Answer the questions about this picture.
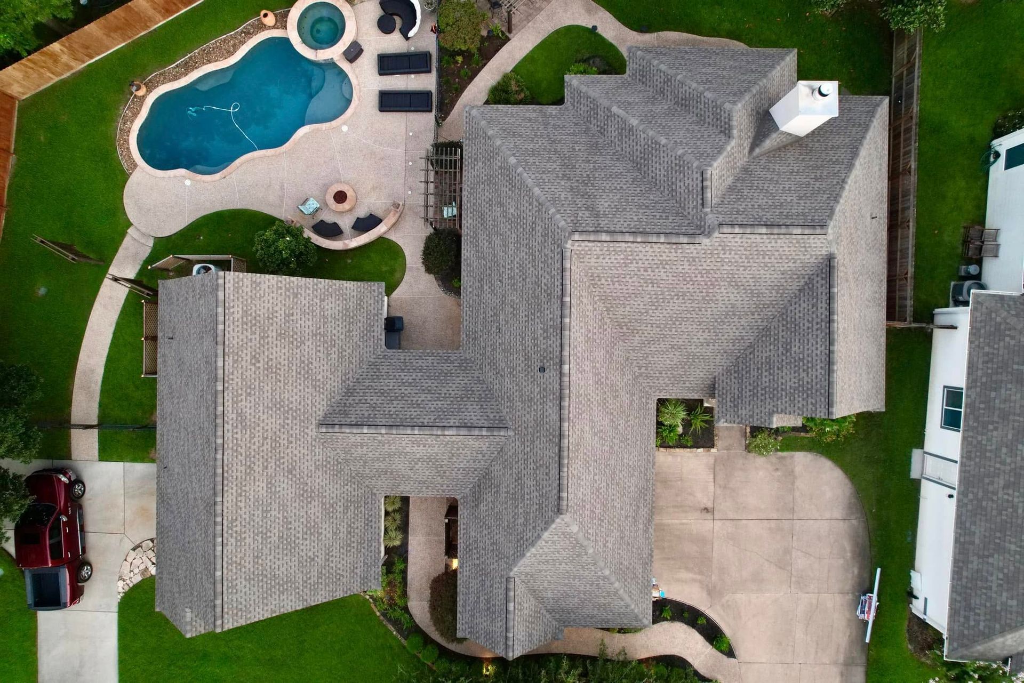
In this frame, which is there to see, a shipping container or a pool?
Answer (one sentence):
There is a pool in the scene.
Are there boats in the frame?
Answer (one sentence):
No, there's no boat here.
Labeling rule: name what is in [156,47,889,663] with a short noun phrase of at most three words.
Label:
house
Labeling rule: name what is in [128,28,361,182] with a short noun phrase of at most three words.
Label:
swimming pool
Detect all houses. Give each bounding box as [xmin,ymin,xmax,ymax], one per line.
[156,47,889,663]
[914,116,1024,683]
